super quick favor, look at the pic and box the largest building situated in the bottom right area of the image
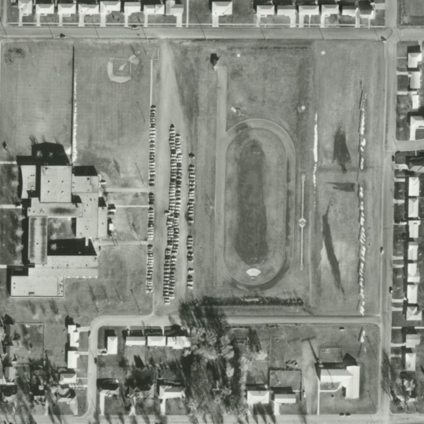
[320,366,359,399]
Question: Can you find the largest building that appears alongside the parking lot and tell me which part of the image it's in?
left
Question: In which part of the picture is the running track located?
center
